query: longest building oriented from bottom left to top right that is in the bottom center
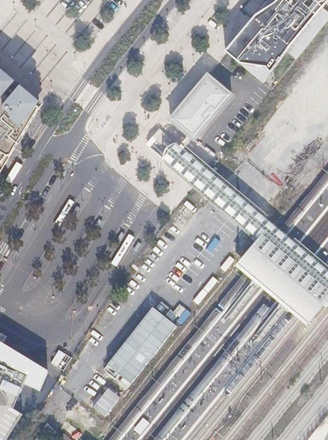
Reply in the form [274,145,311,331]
[104,306,176,390]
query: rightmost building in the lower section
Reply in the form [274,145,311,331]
[234,233,328,328]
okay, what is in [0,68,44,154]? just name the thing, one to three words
building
